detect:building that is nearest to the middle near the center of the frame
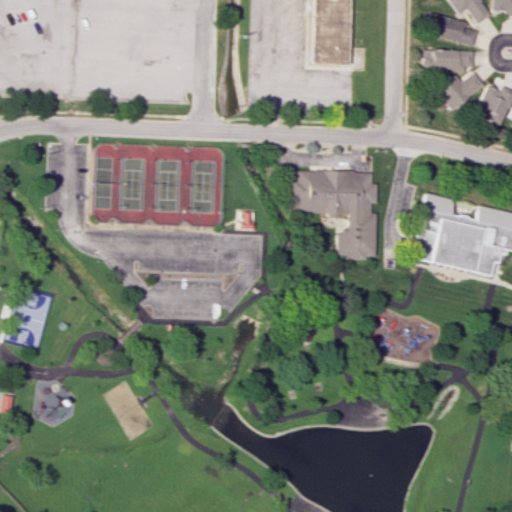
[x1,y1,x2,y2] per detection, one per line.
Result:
[235,209,256,230]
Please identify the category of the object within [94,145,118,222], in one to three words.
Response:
tennis court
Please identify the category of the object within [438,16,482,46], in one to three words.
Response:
house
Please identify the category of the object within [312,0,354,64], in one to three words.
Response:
building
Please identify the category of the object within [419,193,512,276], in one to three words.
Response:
building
